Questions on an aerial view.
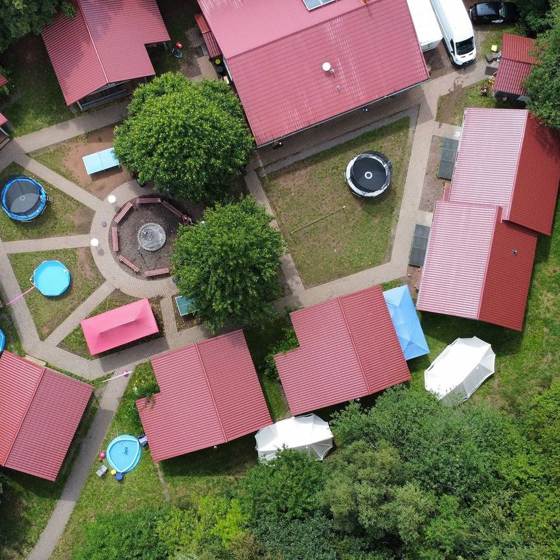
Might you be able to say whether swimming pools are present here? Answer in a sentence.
Yes, the picture does show a swimming pool.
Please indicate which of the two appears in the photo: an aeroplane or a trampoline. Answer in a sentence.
This aerial view contains a trampoline.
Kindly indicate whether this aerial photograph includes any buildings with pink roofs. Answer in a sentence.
Yes, looking at the shot, I can spot a building with a pink roof.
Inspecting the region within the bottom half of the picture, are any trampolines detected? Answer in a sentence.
No, looking within the bottom half of the picture, there is no trampoline.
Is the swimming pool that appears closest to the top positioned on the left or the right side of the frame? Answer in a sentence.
You can find the swimming pool that appears closest to the top on the left side of the picture.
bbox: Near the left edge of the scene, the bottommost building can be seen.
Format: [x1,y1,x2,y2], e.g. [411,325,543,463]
[0,347,95,480]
